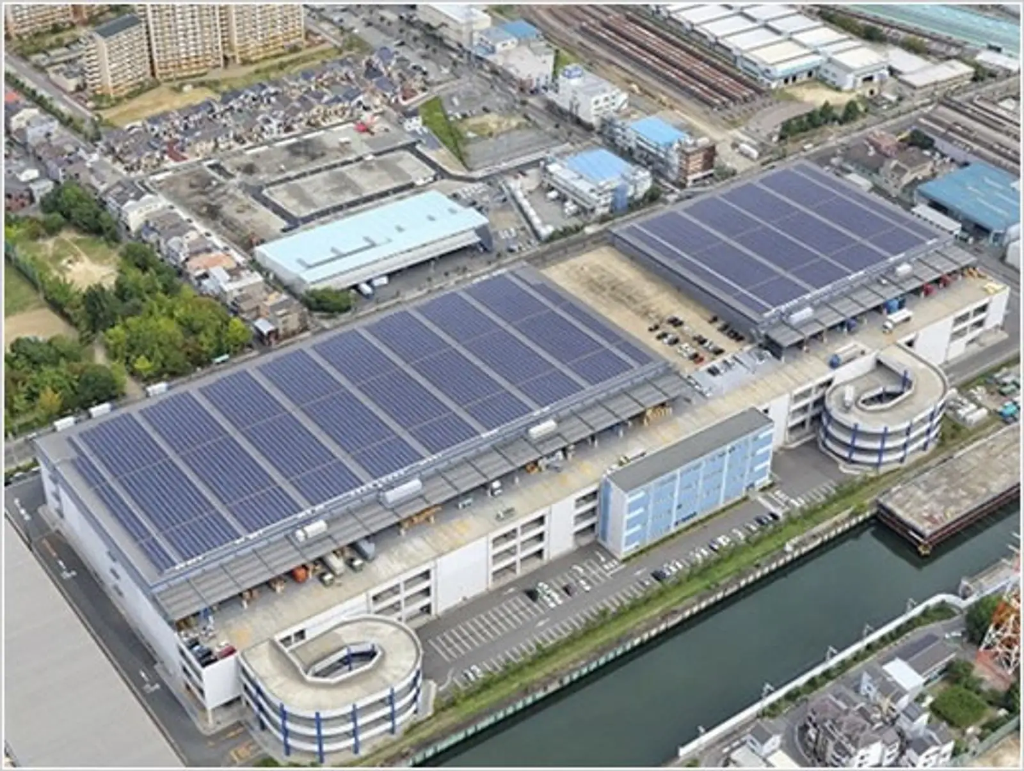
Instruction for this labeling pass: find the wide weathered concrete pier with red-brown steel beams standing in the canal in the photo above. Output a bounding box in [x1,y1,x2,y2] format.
[875,418,1024,550]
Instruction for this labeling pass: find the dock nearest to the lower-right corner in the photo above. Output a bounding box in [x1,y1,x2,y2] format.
[945,544,1024,601]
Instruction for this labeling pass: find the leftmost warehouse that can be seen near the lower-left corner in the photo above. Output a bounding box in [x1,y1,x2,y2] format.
[0,504,187,771]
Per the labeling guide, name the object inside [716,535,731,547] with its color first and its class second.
white vehicle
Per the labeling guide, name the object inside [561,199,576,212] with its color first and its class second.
white vehicle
